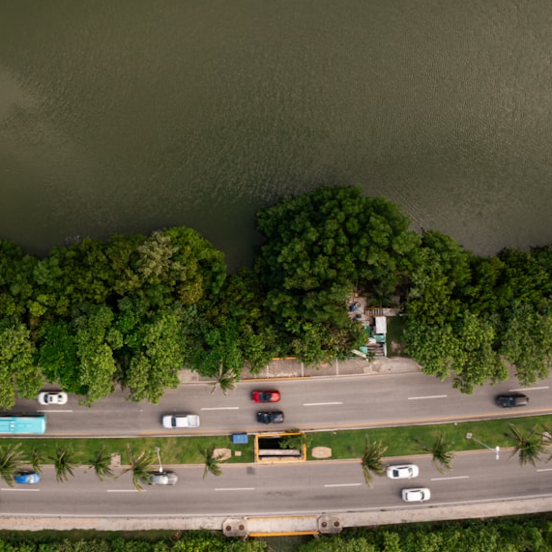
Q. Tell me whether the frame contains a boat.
No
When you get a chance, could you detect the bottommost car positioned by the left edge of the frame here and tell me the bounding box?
[14,469,41,485]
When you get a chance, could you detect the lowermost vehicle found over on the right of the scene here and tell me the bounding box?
[400,487,430,502]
